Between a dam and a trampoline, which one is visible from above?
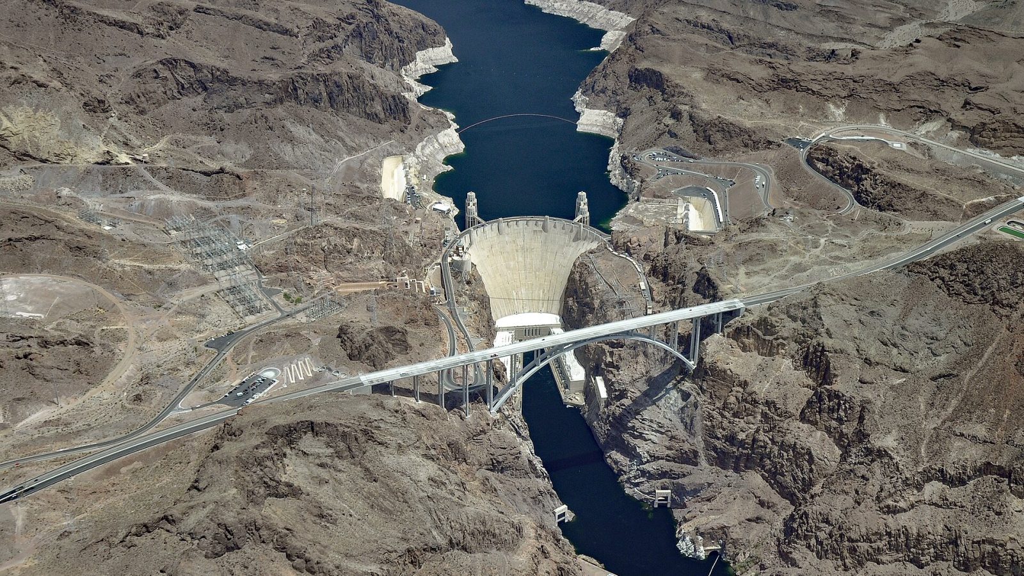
dam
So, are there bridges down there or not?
Yes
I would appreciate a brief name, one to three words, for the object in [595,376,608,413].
building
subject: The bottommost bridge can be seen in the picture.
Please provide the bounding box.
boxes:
[358,298,749,425]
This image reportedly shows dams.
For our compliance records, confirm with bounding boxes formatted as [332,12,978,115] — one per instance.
[447,215,620,323]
